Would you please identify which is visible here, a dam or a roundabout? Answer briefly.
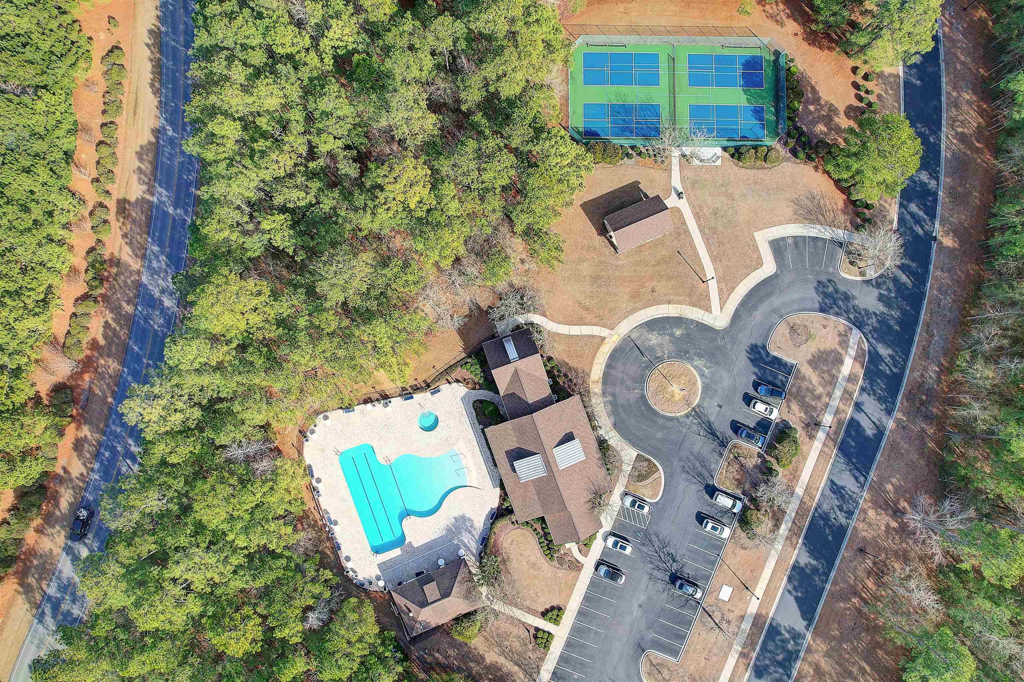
roundabout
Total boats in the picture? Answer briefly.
0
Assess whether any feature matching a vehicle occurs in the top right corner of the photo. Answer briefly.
No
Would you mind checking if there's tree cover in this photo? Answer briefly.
Yes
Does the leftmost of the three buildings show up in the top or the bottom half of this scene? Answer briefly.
bottom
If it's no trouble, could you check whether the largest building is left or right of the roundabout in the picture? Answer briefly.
on its left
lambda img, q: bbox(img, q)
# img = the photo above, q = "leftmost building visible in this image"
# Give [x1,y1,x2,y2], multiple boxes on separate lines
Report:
[389,560,486,638]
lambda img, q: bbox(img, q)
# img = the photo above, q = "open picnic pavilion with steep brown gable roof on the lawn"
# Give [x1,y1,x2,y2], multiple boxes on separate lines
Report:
[604,194,673,254]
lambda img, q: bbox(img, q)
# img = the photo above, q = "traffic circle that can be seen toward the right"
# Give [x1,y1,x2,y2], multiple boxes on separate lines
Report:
[645,360,701,416]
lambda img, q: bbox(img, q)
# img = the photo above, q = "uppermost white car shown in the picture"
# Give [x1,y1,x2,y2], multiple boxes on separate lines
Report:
[751,400,780,418]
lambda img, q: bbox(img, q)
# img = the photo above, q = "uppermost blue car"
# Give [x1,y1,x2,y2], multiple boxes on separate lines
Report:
[759,385,788,402]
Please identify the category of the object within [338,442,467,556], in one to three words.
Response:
swimming pool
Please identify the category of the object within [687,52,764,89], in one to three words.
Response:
sports court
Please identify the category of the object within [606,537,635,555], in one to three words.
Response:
car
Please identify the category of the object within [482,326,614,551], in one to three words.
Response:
building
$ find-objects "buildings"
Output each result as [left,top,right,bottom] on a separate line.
[604,194,673,254]
[389,560,486,638]
[482,326,614,551]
